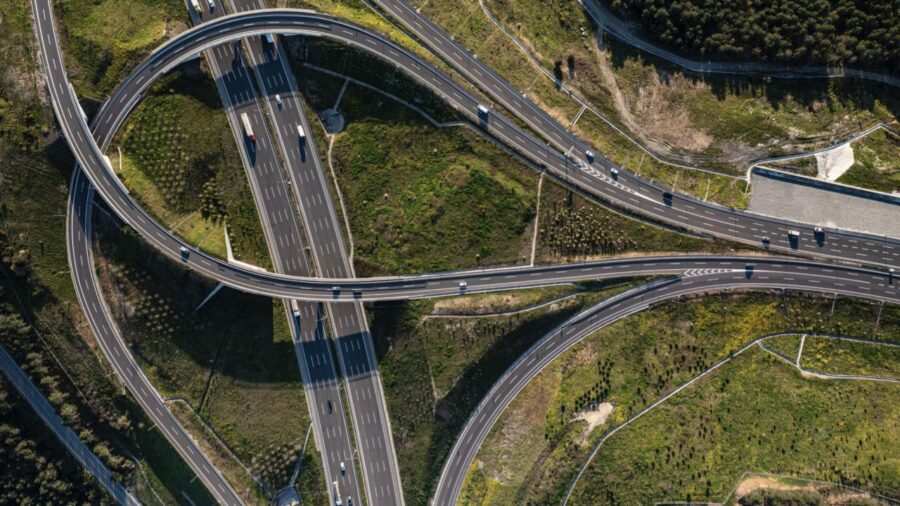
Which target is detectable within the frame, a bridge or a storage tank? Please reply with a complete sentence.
This aerial view contains a bridge.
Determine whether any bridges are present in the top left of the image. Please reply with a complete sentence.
Yes, in the top left of the image there is a bridge.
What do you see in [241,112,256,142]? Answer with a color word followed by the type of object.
white vehicle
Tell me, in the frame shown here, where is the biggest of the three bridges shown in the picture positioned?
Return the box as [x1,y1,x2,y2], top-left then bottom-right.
[142,5,339,71]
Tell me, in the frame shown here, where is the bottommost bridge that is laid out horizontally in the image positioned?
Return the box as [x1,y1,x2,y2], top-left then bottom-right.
[237,264,427,304]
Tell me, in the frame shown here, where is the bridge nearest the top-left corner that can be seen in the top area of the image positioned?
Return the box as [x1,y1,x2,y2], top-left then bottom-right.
[48,82,136,209]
